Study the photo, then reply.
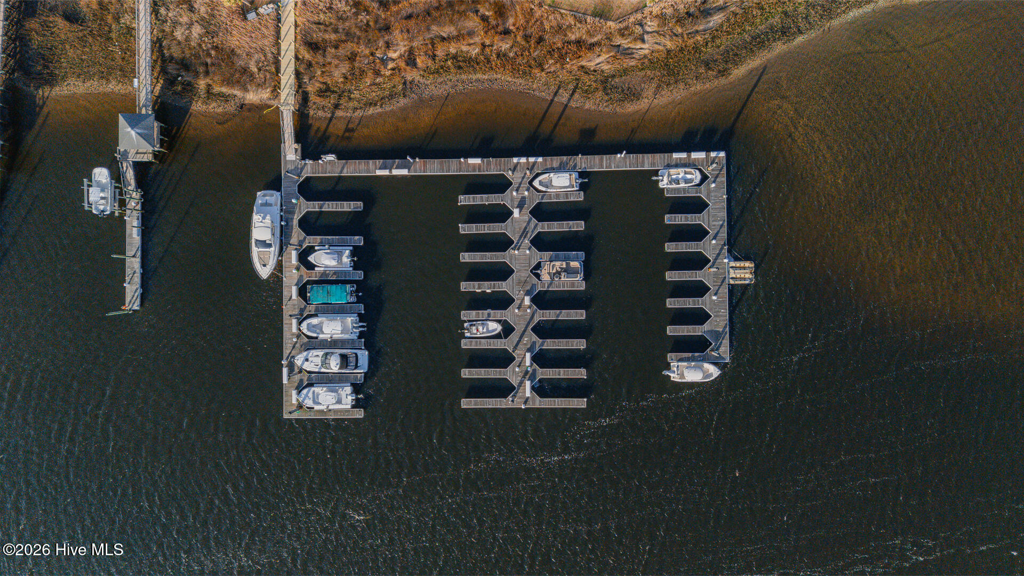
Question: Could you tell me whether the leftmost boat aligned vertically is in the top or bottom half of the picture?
top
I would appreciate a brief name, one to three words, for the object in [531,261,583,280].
boat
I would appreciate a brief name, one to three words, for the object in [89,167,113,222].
boat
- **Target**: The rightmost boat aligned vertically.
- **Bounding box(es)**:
[251,191,283,279]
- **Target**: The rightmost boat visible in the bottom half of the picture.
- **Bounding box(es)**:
[661,362,721,382]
